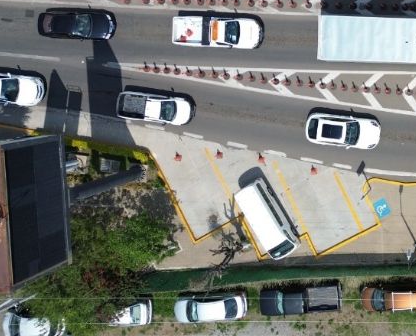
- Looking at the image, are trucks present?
Yes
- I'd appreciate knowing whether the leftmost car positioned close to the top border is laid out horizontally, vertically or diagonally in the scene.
horizontally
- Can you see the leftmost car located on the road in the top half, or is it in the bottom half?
top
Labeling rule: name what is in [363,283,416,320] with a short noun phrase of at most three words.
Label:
car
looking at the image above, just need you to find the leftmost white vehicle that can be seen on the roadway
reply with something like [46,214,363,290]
[0,70,48,108]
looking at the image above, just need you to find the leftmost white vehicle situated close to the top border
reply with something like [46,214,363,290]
[171,14,265,52]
